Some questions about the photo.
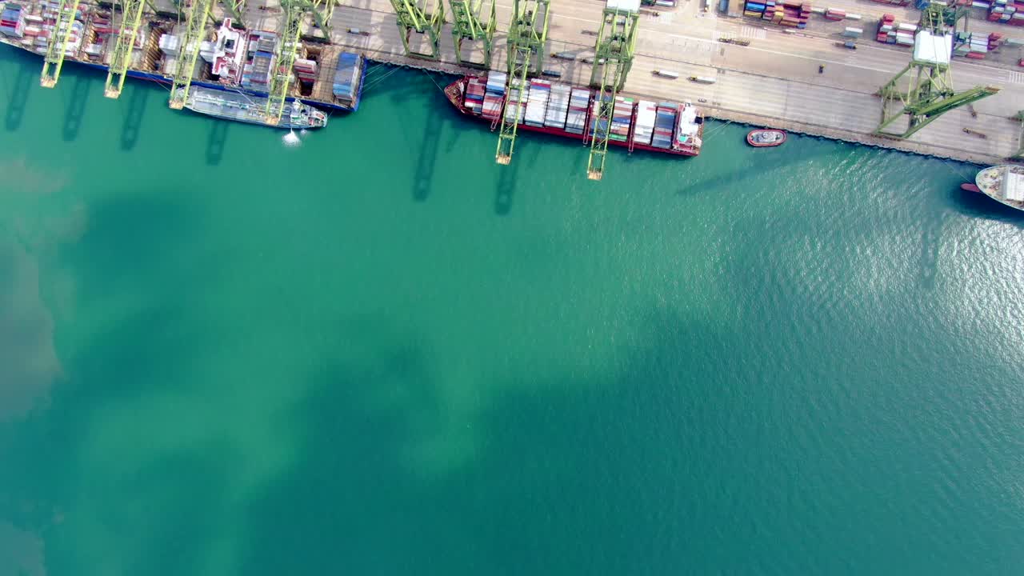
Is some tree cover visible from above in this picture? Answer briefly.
No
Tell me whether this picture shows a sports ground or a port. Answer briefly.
port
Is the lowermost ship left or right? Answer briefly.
right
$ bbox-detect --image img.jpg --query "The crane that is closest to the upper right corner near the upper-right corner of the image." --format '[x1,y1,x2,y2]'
[951,4,985,59]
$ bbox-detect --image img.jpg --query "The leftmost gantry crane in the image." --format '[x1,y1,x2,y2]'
[36,0,142,88]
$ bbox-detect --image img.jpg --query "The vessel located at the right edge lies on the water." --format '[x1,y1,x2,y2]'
[960,166,1024,214]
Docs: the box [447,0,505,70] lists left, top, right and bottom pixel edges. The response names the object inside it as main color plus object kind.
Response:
green container crane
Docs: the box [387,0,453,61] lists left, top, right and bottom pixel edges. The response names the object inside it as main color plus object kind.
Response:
green container crane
